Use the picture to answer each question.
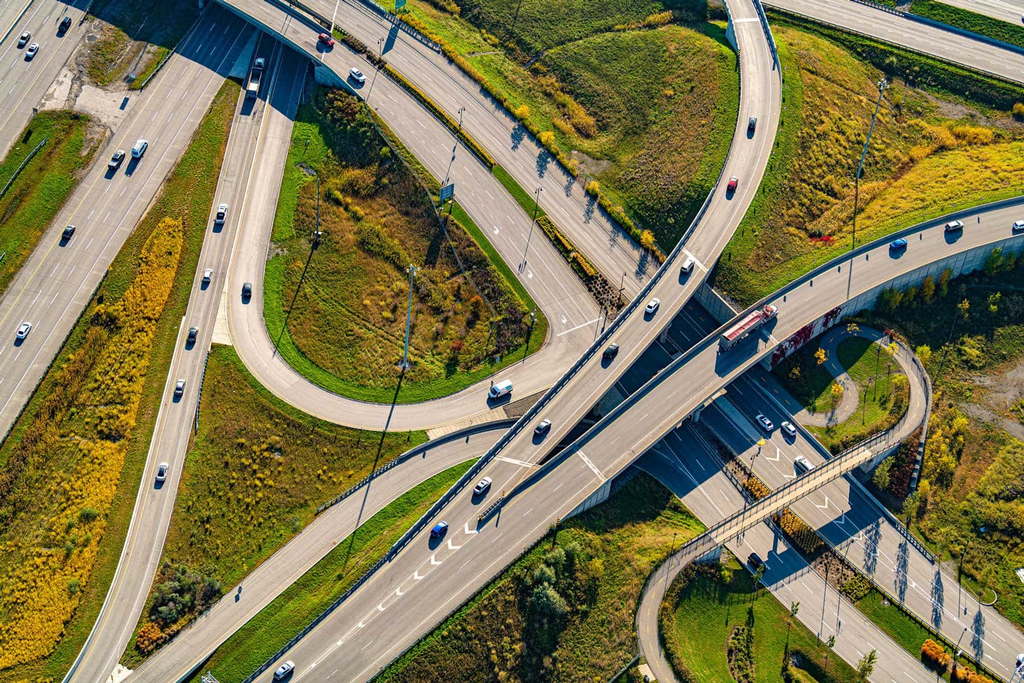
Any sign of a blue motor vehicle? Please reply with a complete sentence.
Yes, the image includes a blue motor vehicle.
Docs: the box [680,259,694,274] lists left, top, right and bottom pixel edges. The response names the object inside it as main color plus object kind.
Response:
white car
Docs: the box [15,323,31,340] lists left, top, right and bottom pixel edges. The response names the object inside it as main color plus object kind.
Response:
white car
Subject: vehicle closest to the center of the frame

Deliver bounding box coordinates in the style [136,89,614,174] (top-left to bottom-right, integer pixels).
[488,380,514,401]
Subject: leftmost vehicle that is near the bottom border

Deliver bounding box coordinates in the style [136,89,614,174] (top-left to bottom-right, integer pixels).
[272,661,295,681]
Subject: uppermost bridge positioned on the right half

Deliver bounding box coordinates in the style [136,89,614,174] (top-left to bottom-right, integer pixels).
[721,0,768,26]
